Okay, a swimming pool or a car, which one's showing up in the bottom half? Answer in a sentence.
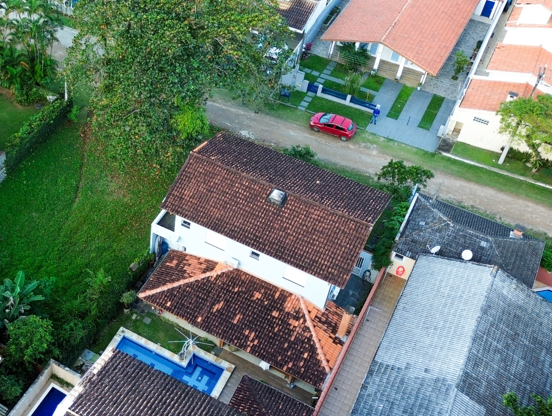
Looking in the bottom half, you will find a swimming pool.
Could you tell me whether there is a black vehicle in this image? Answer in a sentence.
No, no black vehicle is visible in the scene.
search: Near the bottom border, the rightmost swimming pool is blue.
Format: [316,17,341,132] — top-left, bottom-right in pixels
[111,330,233,401]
